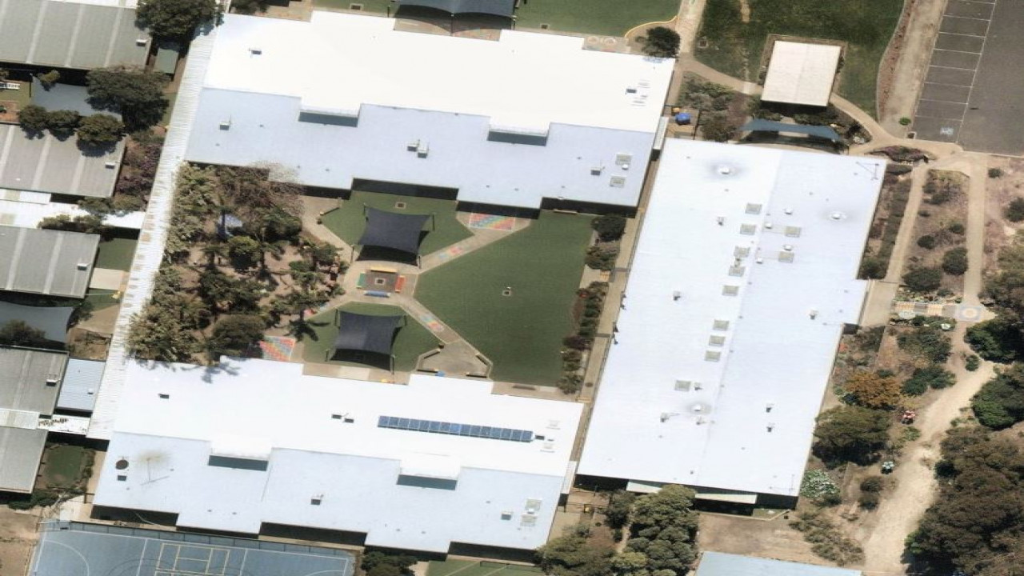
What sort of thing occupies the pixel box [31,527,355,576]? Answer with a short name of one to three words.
sports court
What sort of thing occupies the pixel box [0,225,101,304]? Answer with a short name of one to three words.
building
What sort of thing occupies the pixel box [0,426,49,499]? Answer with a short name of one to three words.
building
